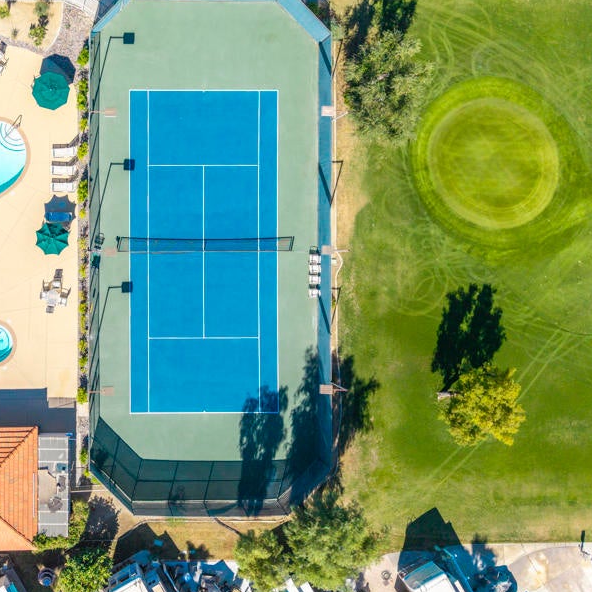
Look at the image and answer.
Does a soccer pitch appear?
No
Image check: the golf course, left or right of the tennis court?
right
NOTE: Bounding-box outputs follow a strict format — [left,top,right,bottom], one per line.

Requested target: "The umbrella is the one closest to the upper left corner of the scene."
[34,72,72,110]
